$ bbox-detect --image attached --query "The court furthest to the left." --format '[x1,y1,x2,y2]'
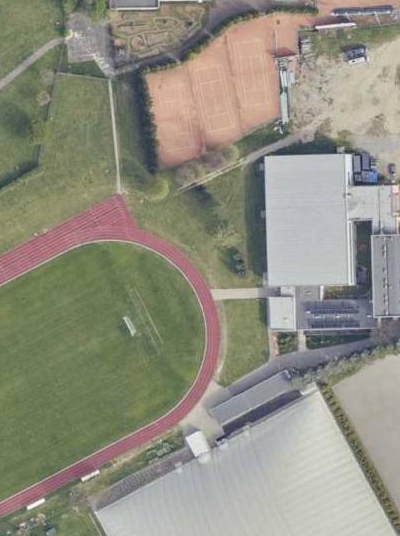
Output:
[155,79,199,156]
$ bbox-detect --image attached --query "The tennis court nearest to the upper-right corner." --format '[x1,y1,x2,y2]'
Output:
[229,36,276,110]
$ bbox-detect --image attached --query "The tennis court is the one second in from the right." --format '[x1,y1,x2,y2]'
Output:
[189,61,235,138]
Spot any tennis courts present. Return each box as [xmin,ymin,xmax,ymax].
[229,36,276,110]
[189,61,235,138]
[155,79,199,156]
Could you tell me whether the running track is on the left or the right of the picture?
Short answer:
left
